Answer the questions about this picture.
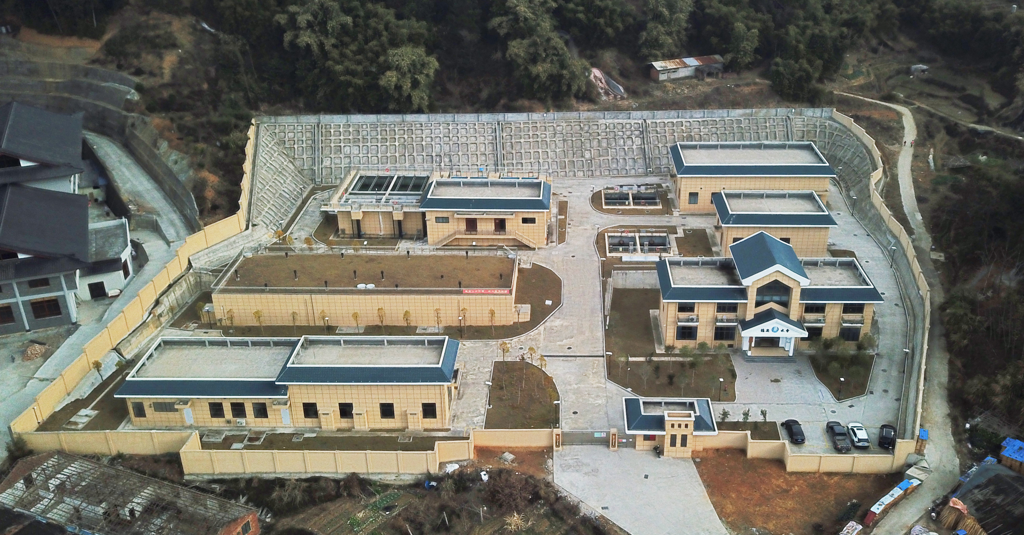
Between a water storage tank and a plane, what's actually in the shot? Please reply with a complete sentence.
This aerial view contains a water storage tank.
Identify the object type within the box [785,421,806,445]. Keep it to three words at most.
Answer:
car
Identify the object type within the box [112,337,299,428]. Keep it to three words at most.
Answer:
building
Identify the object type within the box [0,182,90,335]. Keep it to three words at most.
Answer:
house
